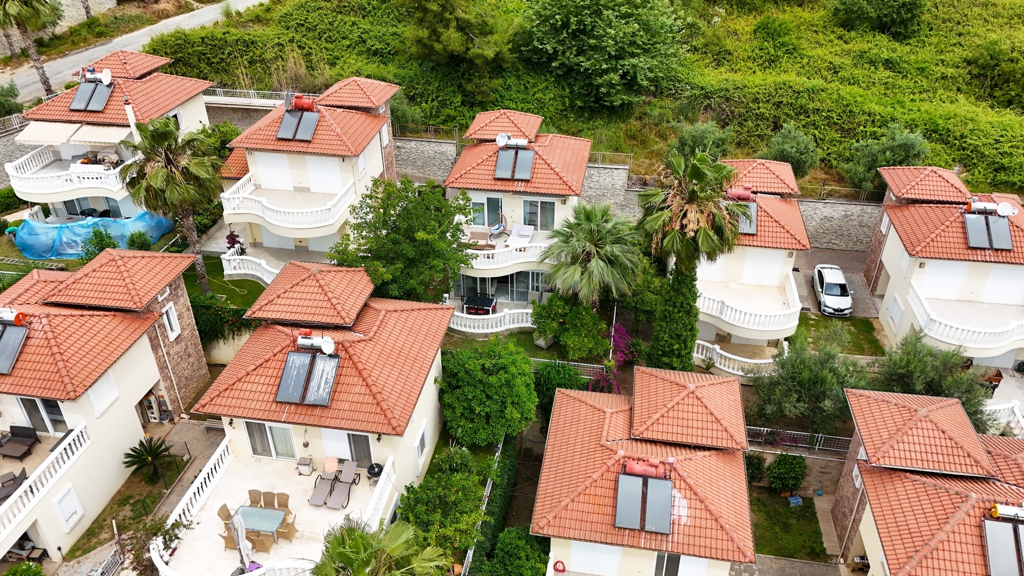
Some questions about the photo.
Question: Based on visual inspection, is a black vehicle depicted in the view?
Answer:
No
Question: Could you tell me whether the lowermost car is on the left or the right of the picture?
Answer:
right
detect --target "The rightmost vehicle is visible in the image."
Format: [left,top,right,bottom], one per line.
[812,270,856,315]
